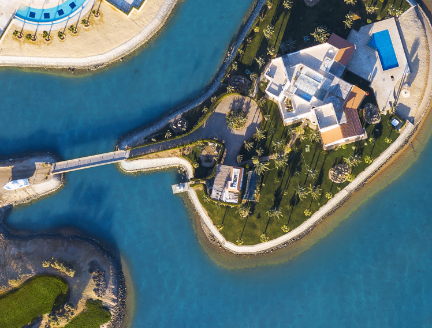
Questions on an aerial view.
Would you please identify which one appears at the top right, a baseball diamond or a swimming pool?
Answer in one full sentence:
The one visible at the top right is a swimming pool.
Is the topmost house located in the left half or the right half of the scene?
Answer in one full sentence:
The topmost house is on the right side of the image.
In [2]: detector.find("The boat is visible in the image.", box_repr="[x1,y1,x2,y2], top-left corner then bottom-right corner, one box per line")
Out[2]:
[3,178,32,190]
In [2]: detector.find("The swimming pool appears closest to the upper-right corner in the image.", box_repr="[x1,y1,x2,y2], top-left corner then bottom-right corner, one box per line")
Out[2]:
[364,27,400,72]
